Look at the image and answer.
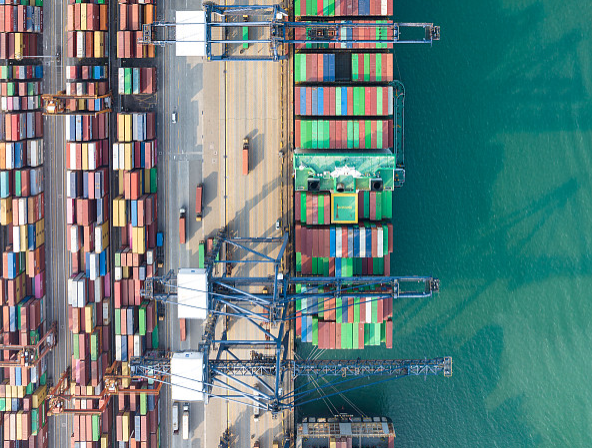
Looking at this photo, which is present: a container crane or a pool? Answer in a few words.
container crane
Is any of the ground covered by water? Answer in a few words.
Yes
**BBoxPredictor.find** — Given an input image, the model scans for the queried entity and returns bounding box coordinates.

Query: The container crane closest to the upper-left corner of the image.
[39,89,115,117]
